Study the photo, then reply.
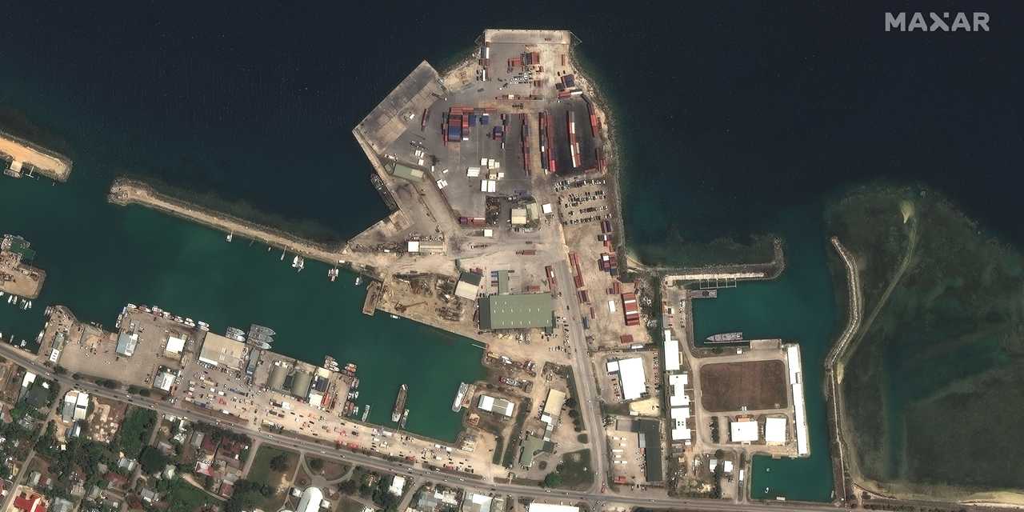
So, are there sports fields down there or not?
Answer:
Yes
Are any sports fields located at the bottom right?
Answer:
Yes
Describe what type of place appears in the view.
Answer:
port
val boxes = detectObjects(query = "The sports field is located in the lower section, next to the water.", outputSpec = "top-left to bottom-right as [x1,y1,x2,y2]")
[701,360,788,411]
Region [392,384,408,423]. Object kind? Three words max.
ship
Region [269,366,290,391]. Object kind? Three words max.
shed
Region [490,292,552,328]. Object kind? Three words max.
building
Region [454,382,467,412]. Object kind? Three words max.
ship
